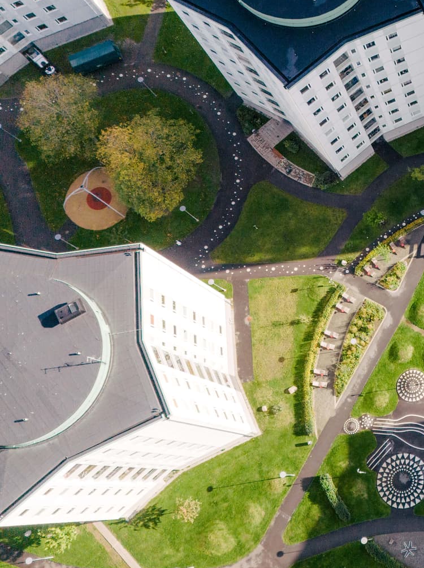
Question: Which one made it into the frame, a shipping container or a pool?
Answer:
shipping container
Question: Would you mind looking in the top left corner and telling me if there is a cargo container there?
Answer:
Yes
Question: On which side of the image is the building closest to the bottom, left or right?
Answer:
left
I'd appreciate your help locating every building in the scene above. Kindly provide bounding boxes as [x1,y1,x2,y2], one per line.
[0,247,253,517]
[0,0,112,79]
[173,0,424,176]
